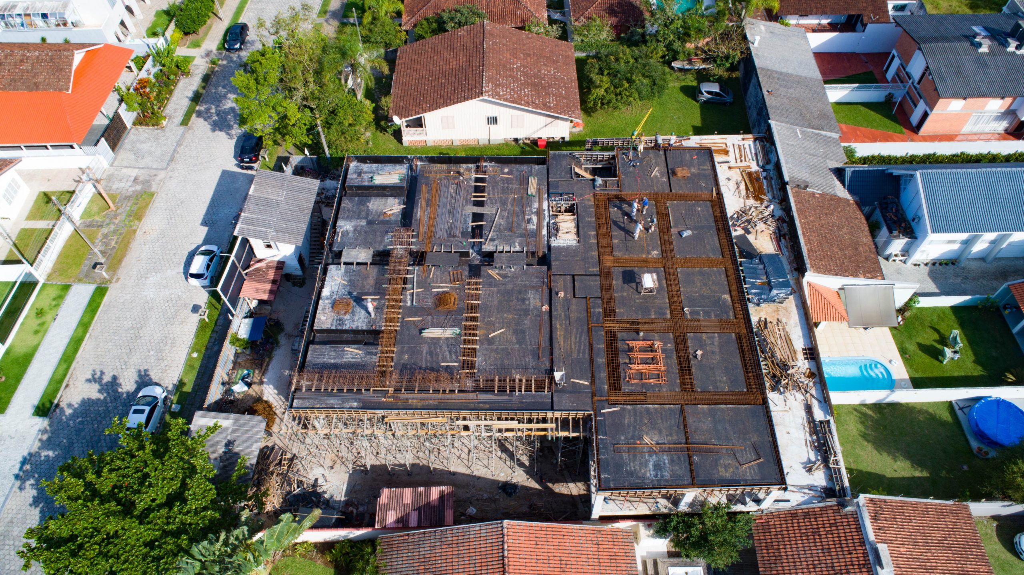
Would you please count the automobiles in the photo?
five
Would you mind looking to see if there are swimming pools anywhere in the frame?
Yes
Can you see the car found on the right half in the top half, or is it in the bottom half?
top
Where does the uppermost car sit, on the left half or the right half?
left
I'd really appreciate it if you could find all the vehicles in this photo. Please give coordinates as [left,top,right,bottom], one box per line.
[694,77,736,105]
[180,238,223,287]
[115,382,168,450]
[232,125,267,166]
[220,18,250,50]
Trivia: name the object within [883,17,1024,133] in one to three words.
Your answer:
house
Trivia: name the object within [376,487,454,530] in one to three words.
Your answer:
shed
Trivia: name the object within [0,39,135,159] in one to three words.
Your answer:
house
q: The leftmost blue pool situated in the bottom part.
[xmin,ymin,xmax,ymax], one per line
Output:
[819,354,903,390]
